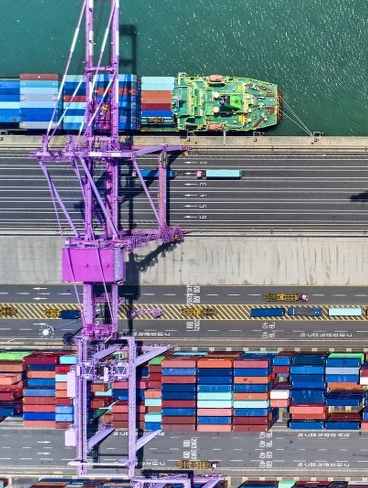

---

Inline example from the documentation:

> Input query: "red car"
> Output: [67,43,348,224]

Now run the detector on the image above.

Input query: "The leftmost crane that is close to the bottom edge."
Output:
[66,336,177,477]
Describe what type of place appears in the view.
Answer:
port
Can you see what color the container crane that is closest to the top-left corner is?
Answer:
purple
